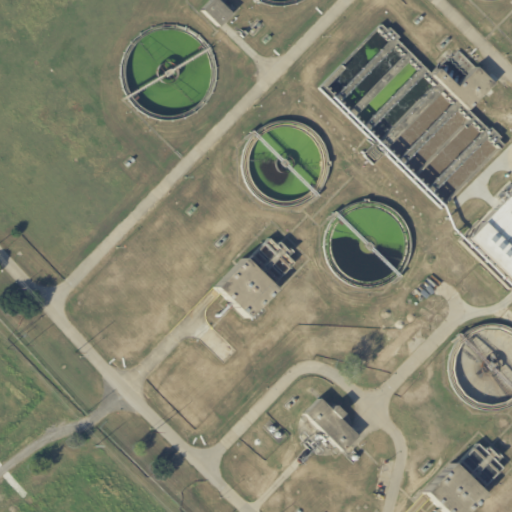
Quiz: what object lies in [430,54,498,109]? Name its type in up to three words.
building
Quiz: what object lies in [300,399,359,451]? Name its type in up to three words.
building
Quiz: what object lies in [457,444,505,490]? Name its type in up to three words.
storage tank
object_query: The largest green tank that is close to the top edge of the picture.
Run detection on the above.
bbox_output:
[118,24,218,120]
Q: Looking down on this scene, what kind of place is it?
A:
industrial area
